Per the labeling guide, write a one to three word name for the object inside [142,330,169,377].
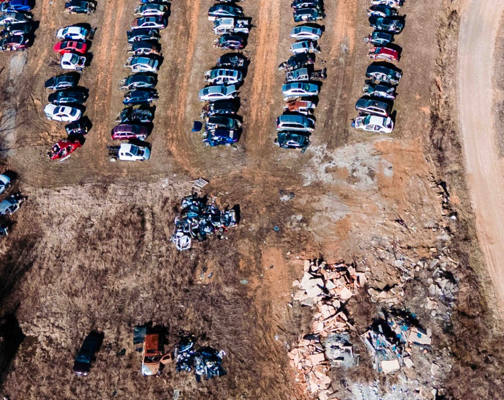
car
